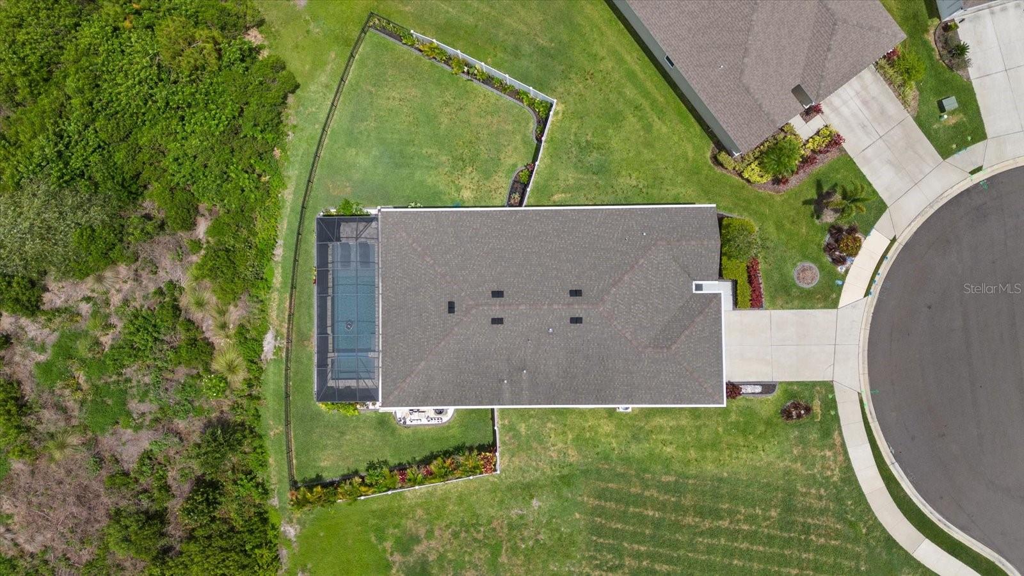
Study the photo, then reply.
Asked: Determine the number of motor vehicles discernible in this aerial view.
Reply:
0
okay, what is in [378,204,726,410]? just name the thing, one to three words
house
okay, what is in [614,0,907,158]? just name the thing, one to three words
house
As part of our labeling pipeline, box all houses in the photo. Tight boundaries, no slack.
[614,0,907,158]
[934,0,1024,23]
[378,204,726,410]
